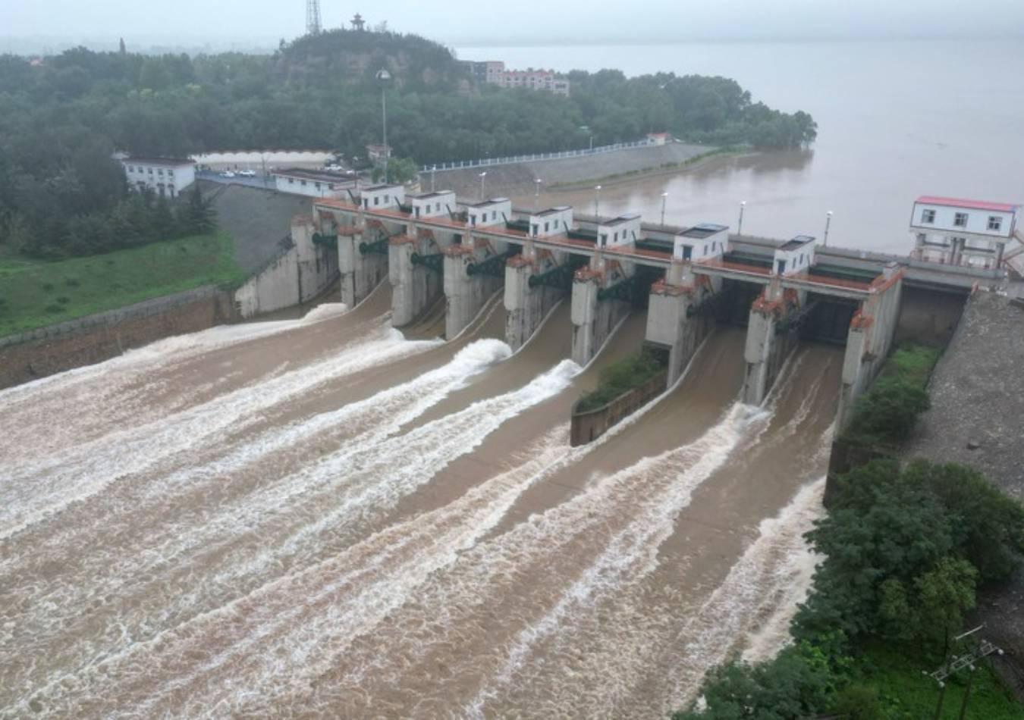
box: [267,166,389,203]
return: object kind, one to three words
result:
building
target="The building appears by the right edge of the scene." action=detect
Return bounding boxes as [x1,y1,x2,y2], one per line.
[901,189,1024,276]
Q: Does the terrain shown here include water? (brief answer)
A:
Yes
